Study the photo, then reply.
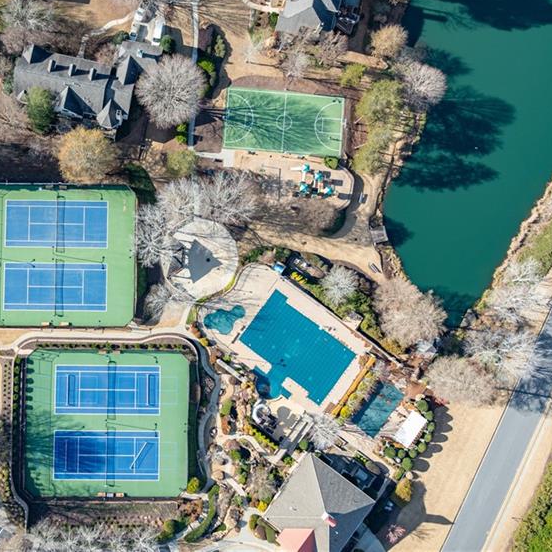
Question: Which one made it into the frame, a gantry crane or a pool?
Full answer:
Of the two, only a pool appears.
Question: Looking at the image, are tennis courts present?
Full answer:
Yes, the photo shows a tennis court.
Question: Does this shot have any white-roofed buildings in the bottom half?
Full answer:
Yes, in the bottom half there is a white-roofed building.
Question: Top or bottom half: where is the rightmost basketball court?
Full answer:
It is in the top half that the rightmost basketball court appears.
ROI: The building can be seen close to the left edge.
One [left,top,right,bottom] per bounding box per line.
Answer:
[10,35,166,132]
